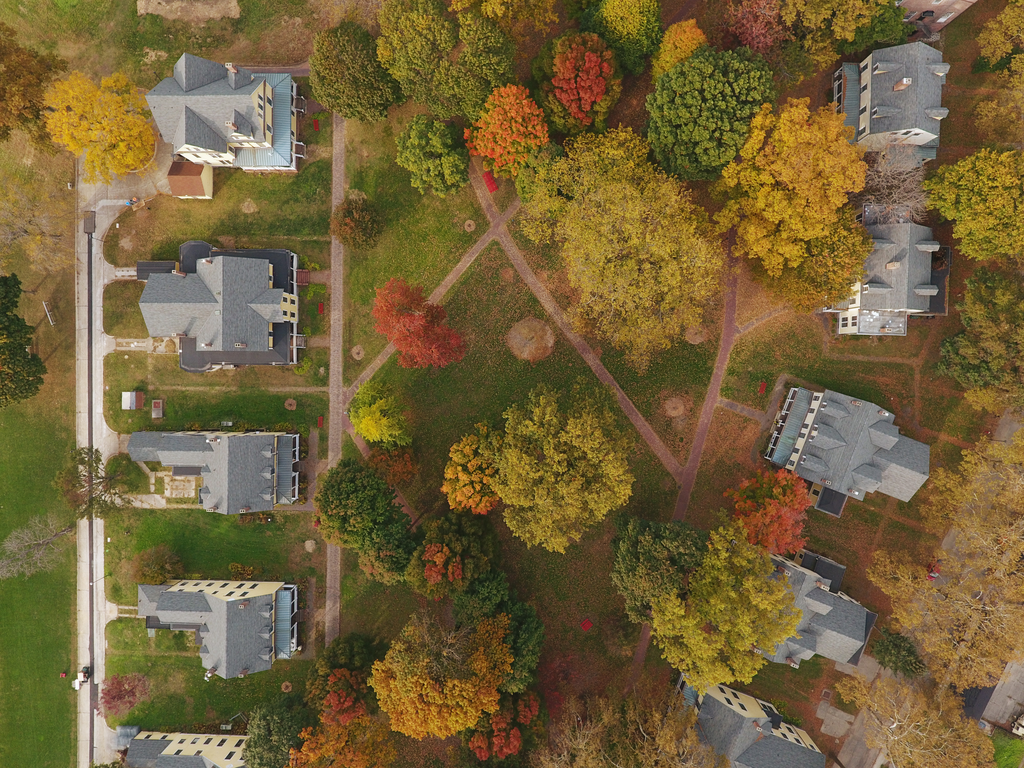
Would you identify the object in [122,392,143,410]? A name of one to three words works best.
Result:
shed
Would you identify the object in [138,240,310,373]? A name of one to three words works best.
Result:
house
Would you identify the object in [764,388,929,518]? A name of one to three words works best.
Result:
house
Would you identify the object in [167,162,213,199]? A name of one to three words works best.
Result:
building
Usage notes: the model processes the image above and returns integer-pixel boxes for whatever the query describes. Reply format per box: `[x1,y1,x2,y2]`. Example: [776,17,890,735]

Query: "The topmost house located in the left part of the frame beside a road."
[145,52,307,171]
